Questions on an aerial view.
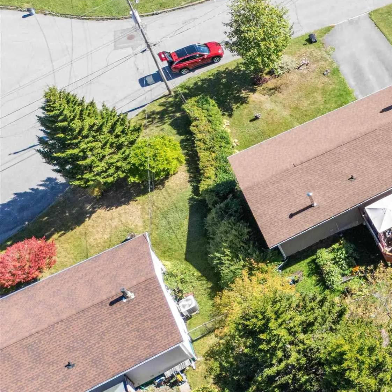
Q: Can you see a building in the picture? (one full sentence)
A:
Yes, a building appears in the view.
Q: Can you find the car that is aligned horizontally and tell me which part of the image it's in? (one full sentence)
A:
The car that is aligned horizontally is in the top part of the image.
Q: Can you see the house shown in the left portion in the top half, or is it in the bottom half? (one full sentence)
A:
It is in the bottom half that the house shown in the left portion appears.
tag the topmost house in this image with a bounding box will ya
[230,85,392,260]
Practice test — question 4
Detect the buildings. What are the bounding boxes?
[230,85,392,260]
[0,231,200,392]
